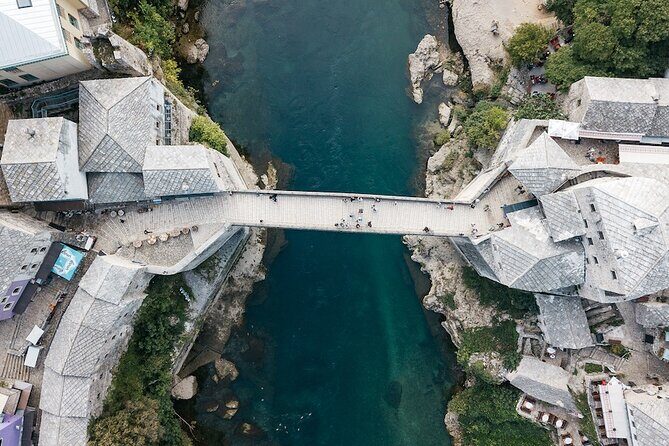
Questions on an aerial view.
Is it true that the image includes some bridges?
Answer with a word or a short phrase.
Yes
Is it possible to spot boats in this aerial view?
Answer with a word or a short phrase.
No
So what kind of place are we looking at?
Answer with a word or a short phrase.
residential area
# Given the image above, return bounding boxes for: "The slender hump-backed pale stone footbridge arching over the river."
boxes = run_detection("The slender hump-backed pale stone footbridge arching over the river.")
[223,189,472,240]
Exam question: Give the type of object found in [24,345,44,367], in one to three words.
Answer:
umbrella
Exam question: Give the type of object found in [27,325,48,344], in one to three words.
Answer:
umbrella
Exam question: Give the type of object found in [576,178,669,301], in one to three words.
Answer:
house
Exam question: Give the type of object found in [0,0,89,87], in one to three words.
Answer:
house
